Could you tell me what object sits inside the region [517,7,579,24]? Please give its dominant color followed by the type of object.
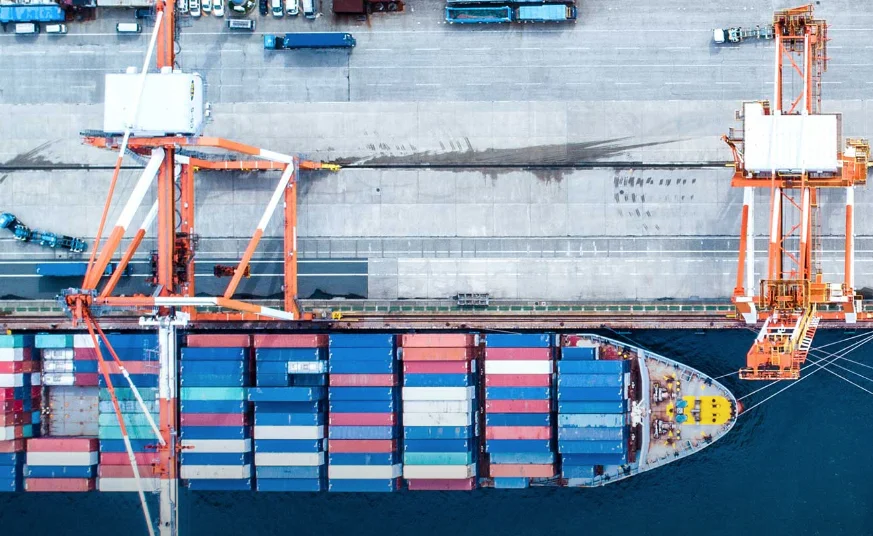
blue trailer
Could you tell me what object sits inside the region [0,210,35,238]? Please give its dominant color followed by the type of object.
blue truck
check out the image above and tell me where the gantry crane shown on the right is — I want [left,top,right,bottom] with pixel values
[719,0,873,380]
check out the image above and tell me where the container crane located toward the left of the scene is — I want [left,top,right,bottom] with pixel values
[61,0,341,536]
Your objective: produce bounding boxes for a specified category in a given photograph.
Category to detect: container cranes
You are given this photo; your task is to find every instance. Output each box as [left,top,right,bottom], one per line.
[61,0,341,536]
[719,0,873,380]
